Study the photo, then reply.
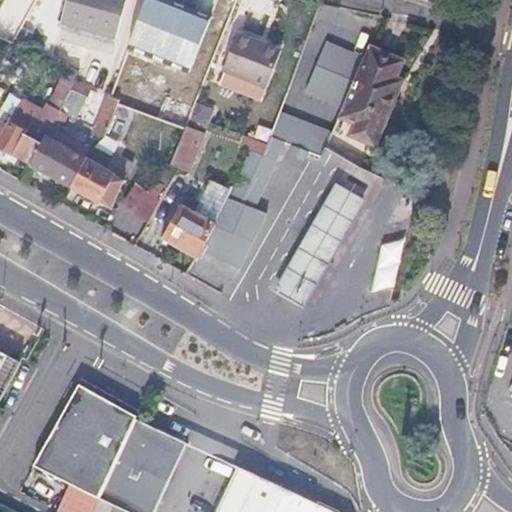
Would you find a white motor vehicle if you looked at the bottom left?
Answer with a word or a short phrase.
Yes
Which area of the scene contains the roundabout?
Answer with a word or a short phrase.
bottom right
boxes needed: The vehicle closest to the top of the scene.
[354,30,368,52]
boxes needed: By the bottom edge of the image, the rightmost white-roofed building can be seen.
[212,463,334,512]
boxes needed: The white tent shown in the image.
[369,238,406,293]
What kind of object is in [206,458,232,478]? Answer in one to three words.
vehicle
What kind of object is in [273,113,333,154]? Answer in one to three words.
building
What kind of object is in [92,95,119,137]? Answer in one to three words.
shed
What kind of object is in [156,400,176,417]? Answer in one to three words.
car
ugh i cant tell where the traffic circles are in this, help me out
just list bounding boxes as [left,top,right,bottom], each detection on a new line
[326,315,490,512]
